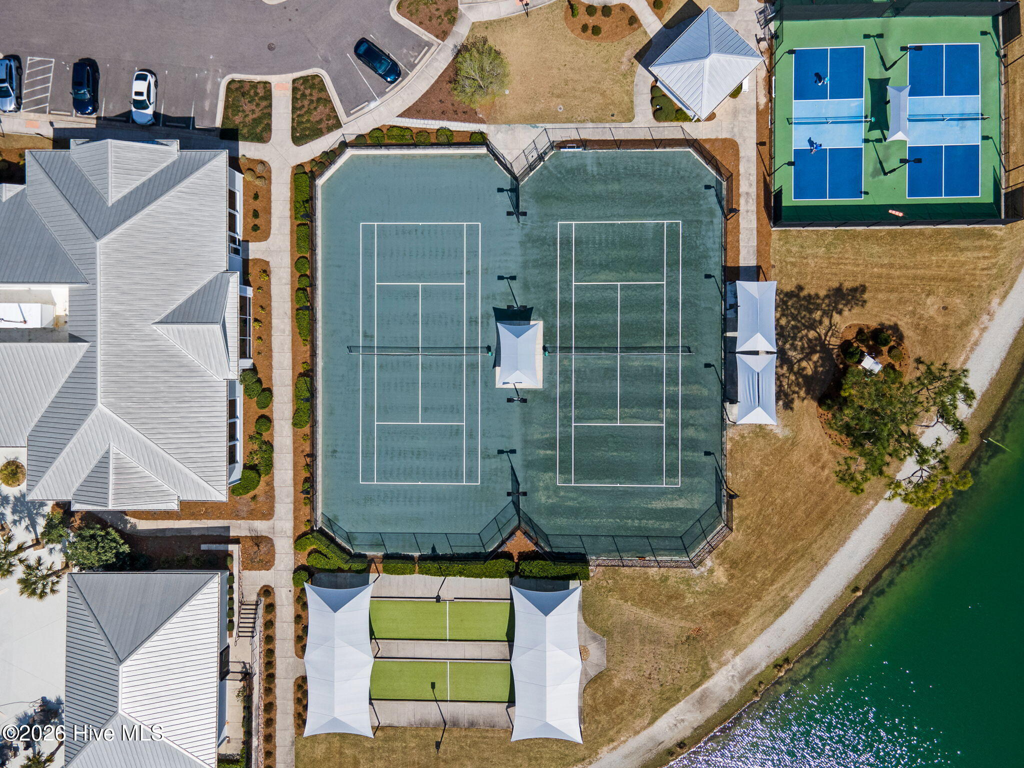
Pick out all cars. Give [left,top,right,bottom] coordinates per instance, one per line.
[354,37,402,85]
[0,58,19,113]
[127,71,156,125]
[68,62,98,115]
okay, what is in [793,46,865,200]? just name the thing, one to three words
sports court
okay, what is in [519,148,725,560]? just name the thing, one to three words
tennis court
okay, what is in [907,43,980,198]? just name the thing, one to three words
sports court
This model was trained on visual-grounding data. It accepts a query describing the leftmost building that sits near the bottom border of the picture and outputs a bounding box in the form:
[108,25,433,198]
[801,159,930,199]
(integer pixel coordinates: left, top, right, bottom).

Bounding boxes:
[67,571,231,768]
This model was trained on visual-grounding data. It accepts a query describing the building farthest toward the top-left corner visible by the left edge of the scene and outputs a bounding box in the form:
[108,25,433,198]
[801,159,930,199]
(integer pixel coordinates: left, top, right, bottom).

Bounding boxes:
[0,138,255,511]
